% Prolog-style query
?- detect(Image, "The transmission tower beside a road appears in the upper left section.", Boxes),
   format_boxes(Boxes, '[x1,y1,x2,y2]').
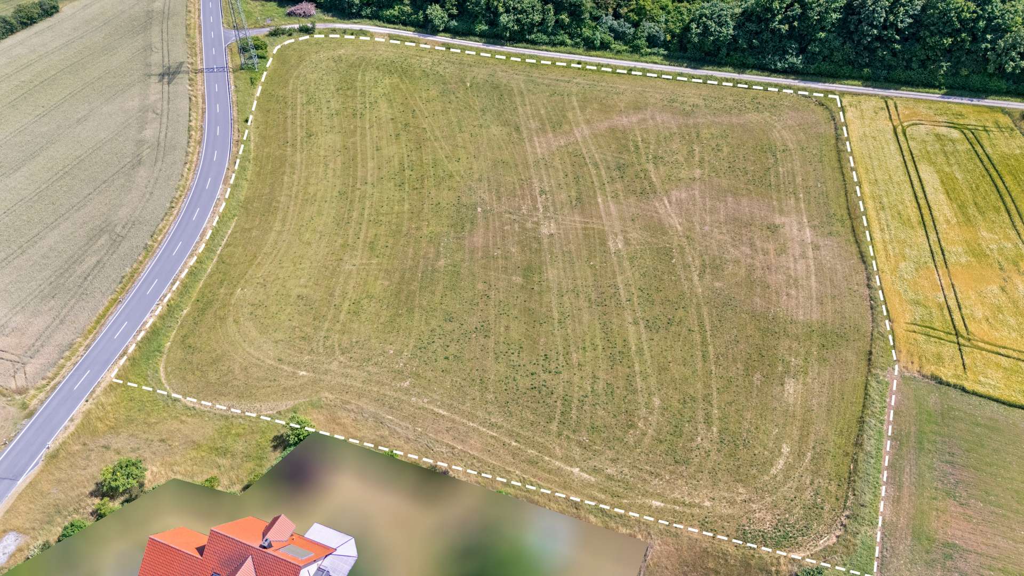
[218,0,261,71]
